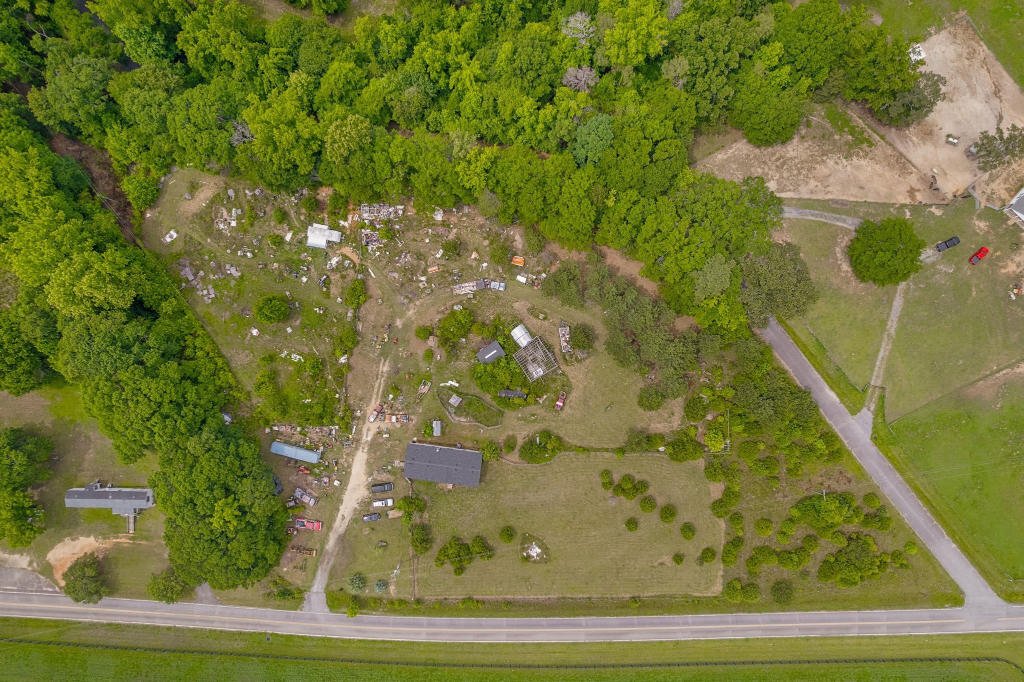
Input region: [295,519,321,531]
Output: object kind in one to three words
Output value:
vehicle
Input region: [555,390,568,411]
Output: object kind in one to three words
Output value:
vehicle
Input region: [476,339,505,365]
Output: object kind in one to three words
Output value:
shed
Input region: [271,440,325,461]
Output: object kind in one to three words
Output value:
bus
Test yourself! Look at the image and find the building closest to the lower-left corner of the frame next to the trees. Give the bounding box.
[64,478,148,516]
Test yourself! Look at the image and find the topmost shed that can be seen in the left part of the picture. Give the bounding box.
[306,224,343,250]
